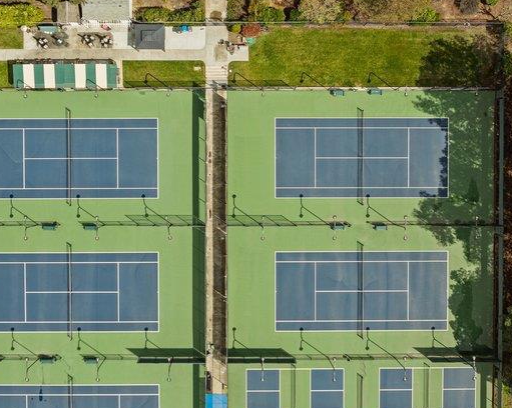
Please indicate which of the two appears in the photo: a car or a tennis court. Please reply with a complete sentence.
It is a tennis court that can be seen here.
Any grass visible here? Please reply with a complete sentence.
Yes, grass shows up in the scene.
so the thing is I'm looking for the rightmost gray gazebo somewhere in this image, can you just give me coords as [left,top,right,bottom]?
[134,25,166,52]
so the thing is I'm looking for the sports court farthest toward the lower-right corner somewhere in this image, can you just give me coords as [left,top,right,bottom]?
[362,357,491,408]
